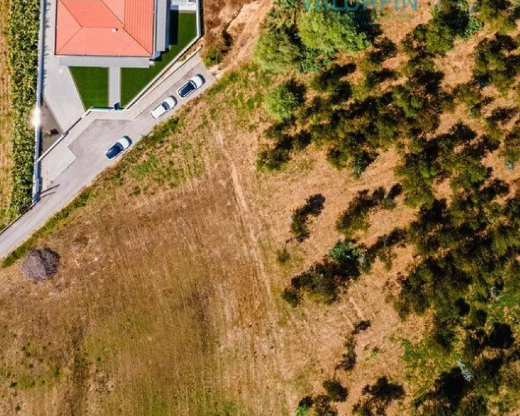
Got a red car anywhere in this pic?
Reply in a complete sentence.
No, I find no red car anywhere in the image.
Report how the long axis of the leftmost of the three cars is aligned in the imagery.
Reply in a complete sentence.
I'd say the leftmost of the three cars is aligned diagonally in the picture.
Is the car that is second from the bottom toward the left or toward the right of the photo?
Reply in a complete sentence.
The car that is second from the bottom is on the left side of the image.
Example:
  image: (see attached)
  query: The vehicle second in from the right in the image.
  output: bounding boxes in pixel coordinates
[149,95,176,119]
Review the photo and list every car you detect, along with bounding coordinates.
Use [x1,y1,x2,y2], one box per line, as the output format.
[104,136,133,159]
[177,74,204,98]
[149,95,176,119]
